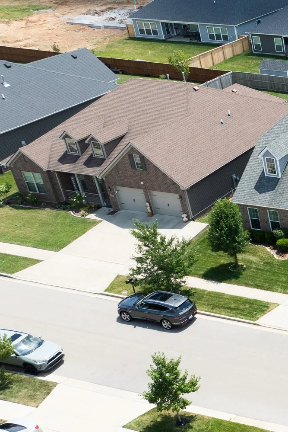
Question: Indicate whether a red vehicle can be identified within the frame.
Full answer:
No, there isn't any red vehicle down there.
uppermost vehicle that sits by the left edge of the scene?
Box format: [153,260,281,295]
[0,327,63,374]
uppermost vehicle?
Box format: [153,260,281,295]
[112,289,195,330]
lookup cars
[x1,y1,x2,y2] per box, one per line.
[112,289,195,330]
[0,327,63,374]
[0,418,42,432]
